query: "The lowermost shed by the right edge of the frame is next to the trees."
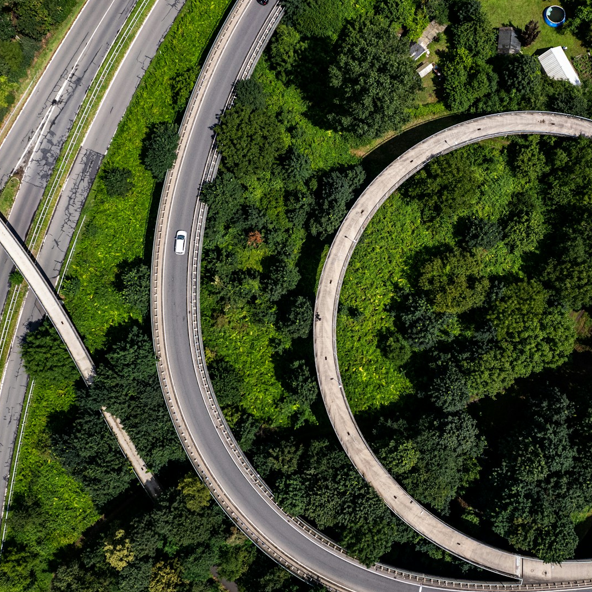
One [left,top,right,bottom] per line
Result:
[536,46,579,91]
